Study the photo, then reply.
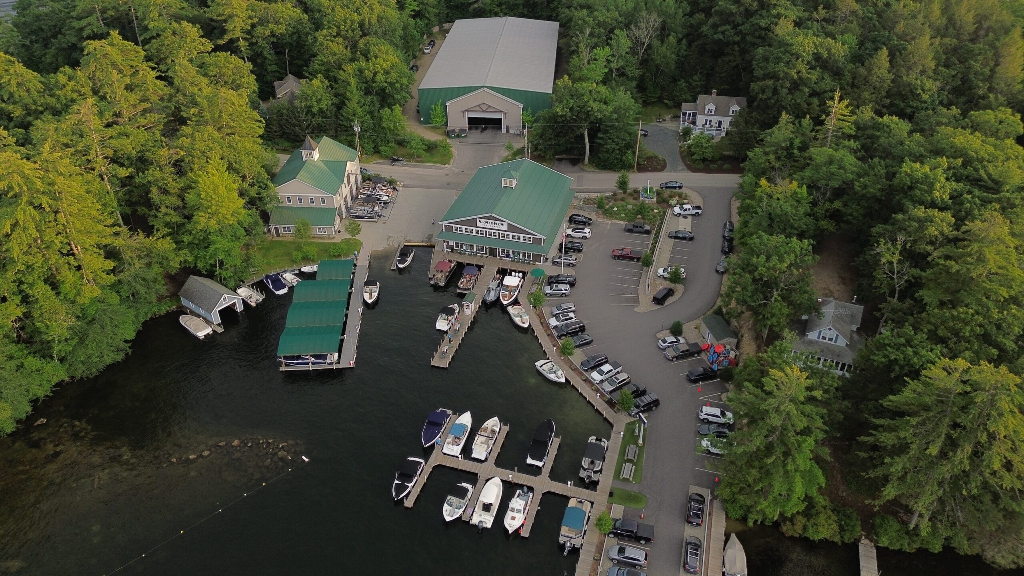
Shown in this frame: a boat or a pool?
boat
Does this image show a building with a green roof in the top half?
Yes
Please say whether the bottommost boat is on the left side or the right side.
right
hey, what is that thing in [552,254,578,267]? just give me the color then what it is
gray vehicle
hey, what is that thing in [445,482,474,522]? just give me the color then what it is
white boat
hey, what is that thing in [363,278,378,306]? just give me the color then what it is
white boat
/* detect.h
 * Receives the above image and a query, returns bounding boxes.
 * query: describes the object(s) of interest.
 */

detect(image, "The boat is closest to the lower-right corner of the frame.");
[724,535,749,576]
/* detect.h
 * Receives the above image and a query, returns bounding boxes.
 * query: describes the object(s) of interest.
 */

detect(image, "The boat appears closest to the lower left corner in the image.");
[179,316,214,341]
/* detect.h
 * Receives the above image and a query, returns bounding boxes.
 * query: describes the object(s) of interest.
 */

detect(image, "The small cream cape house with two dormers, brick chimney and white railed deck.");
[680,90,746,131]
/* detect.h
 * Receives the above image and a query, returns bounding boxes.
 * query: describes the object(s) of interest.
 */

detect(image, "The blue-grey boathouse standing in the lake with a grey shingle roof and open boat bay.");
[178,275,244,328]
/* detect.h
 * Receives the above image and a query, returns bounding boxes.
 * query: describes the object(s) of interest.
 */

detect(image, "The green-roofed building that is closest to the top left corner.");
[265,128,361,237]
